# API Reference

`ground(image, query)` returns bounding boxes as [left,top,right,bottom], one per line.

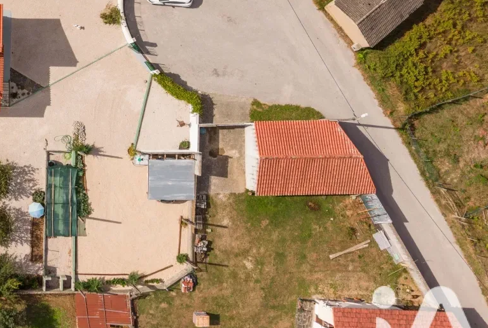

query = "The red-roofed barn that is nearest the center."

[248,119,376,196]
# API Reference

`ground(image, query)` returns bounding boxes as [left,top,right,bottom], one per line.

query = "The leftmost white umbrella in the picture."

[29,202,44,217]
